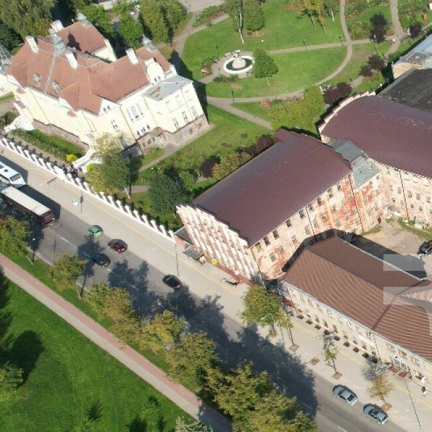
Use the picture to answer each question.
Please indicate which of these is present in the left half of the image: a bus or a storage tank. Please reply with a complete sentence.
Visible in the left half of the image is a bus.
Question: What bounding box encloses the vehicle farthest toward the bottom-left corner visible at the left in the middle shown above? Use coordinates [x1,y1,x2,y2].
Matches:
[90,251,112,269]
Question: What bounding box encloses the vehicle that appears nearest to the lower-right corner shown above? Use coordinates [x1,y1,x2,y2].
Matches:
[361,403,389,426]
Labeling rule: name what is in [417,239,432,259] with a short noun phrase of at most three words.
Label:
car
